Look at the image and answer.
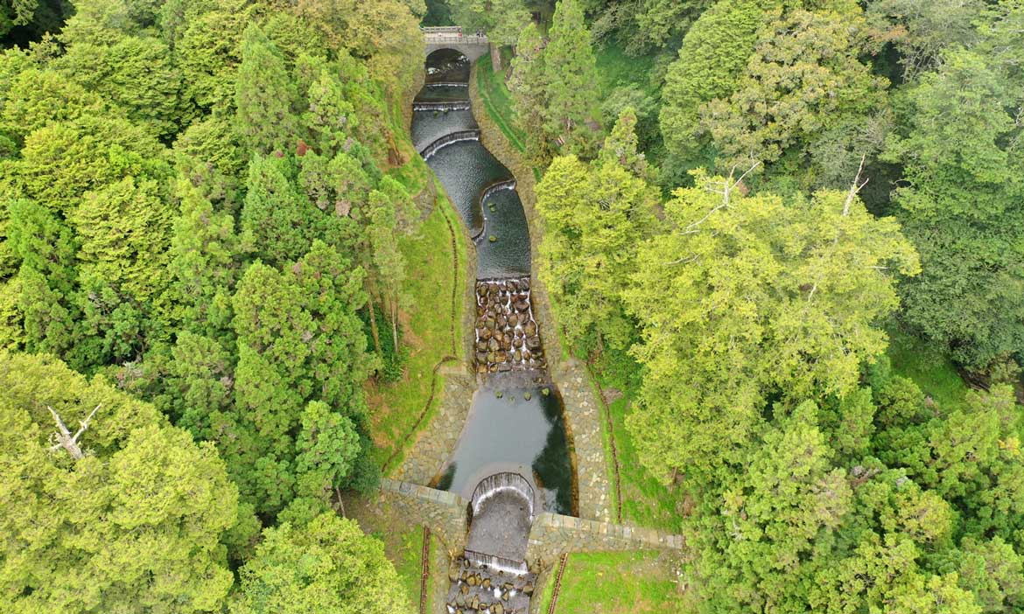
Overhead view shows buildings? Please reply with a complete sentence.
No, there appears to be no building in this shot.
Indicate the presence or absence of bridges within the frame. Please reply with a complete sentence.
Yes, the photo shows a bridge.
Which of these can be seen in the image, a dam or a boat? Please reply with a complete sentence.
The image shows a dam.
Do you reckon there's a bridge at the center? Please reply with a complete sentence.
No, there is no bridge at the center.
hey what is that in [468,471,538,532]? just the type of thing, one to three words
dam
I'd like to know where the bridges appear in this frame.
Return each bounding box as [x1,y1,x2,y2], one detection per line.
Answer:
[365,29,492,78]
